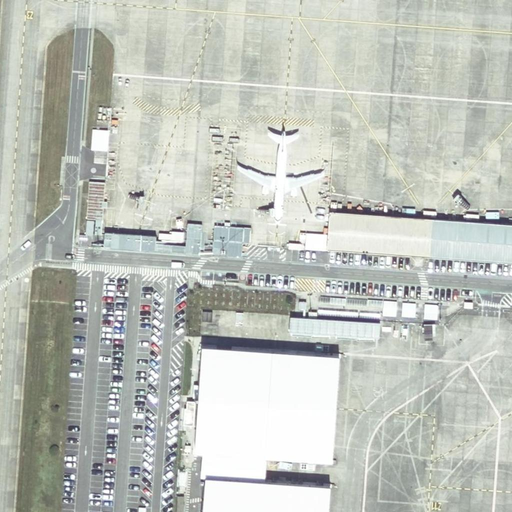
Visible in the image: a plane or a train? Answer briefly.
plane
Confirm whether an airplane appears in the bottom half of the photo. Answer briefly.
No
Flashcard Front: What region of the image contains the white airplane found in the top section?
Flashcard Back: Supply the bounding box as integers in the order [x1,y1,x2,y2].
[238,130,324,222]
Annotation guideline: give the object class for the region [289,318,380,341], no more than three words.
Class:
building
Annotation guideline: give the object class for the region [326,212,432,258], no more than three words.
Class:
shed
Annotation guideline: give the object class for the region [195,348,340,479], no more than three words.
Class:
hangar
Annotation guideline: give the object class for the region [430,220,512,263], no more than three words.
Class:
shed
